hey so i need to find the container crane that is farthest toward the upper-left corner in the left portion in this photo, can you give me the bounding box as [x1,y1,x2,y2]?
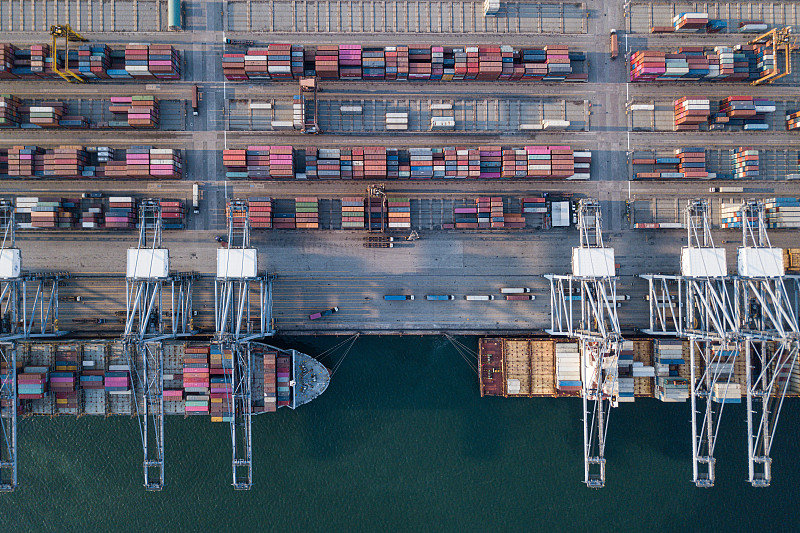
[48,24,86,84]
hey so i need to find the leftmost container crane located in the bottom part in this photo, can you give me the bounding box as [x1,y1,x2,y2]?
[0,197,86,494]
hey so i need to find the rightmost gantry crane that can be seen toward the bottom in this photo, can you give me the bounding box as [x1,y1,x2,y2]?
[698,198,800,491]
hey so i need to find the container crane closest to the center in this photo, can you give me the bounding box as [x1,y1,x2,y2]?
[366,183,386,234]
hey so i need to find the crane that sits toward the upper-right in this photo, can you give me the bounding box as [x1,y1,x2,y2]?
[751,29,790,85]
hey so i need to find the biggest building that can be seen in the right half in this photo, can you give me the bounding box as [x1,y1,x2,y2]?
[551,202,570,226]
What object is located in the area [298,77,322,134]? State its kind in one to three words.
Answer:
container crane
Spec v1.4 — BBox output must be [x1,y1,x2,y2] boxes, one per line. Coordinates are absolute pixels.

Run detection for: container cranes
[212,197,288,492]
[698,198,800,491]
[48,24,86,84]
[751,29,790,85]
[298,77,322,134]
[538,198,623,491]
[366,183,386,234]
[634,198,745,491]
[0,197,86,494]
[116,197,212,493]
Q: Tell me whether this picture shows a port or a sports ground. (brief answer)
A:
port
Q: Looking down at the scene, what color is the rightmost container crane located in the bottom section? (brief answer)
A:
white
